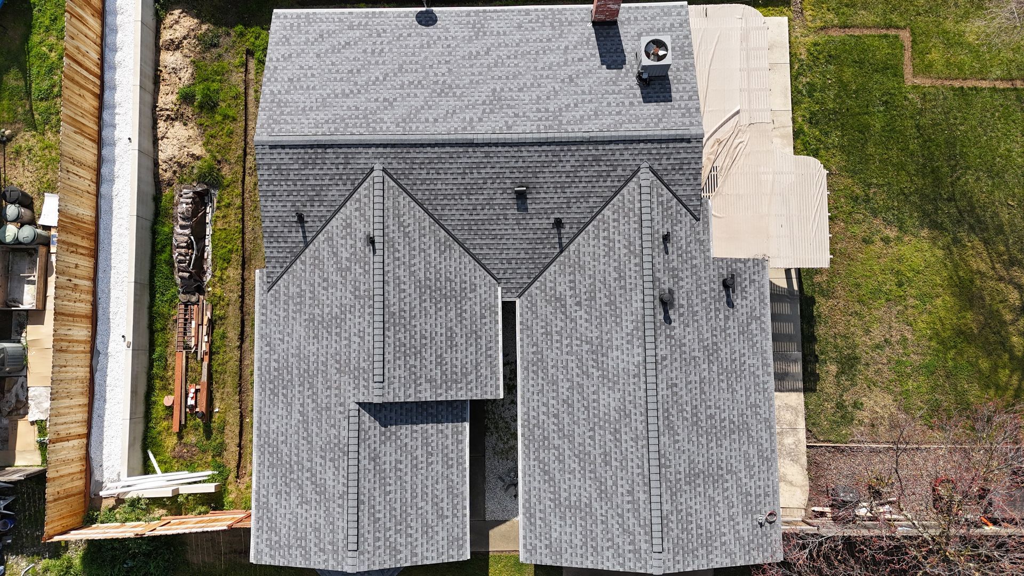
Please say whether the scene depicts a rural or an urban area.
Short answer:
urban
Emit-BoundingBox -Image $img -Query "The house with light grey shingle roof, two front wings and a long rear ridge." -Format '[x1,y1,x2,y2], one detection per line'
[250,0,783,576]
